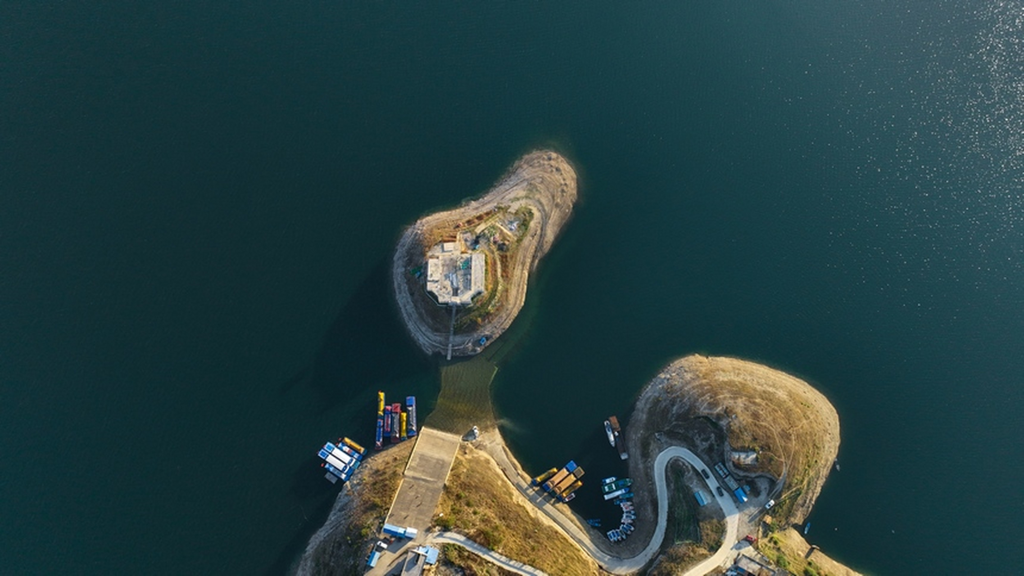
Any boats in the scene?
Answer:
Yes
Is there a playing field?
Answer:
No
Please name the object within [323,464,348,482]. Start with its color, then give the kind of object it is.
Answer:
blue boat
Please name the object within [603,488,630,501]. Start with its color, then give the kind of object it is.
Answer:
blue boat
